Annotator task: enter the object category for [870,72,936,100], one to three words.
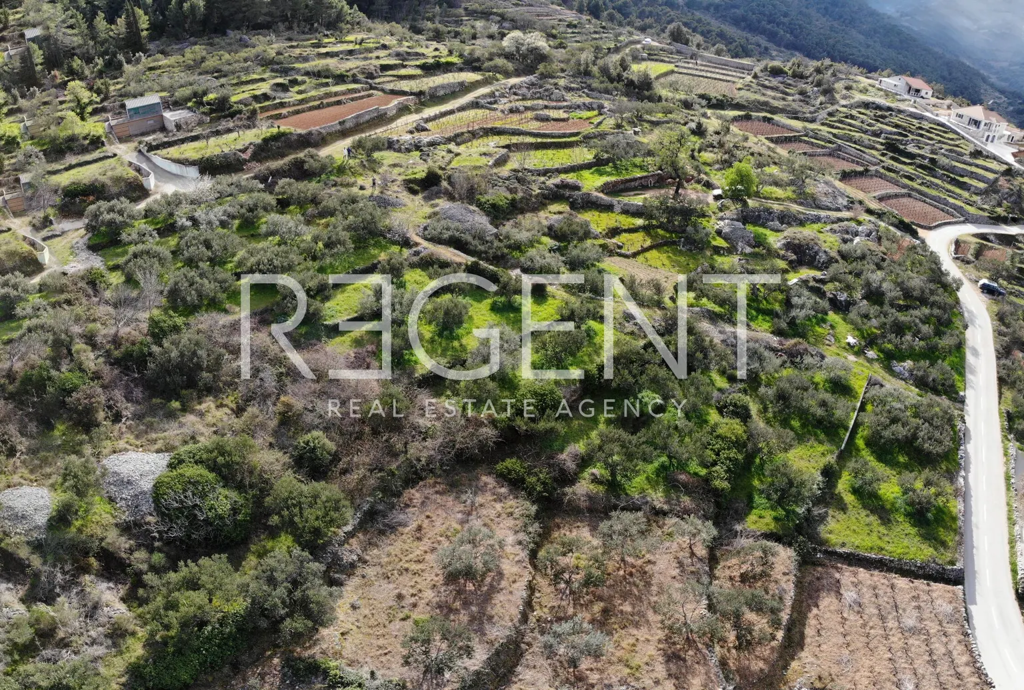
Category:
house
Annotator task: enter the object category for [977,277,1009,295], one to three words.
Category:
car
